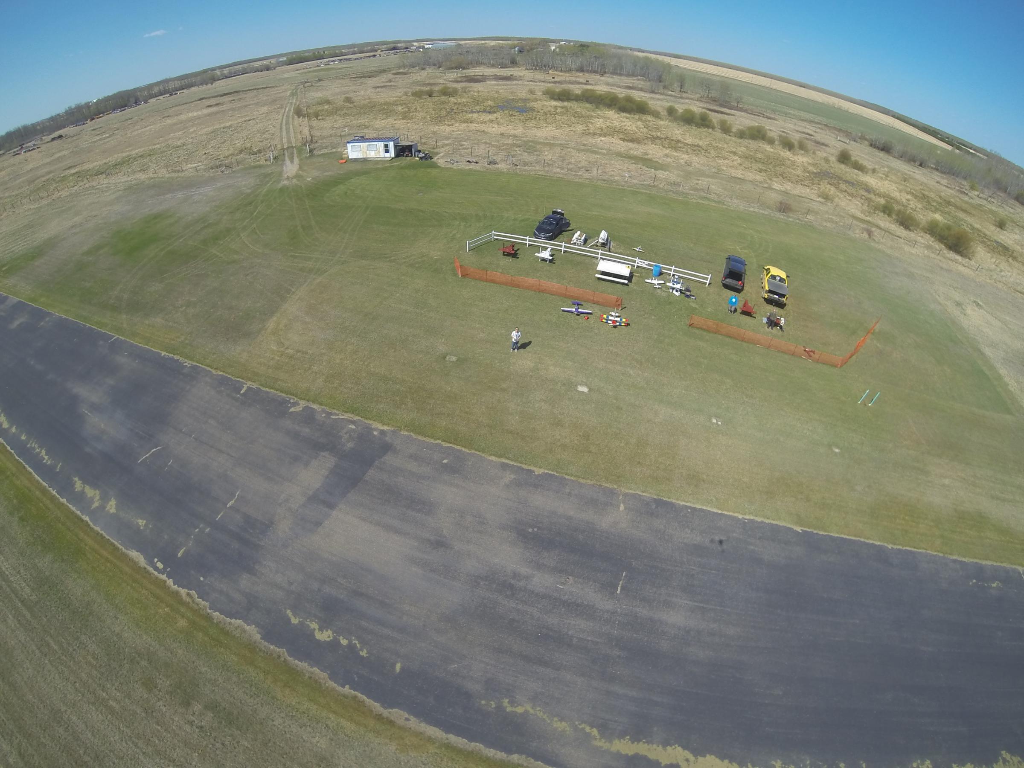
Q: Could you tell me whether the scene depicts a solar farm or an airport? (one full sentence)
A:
The picture captures an airport.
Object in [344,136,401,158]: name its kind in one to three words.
shed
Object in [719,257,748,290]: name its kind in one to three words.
vehicle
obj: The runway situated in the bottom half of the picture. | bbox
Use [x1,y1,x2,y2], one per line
[0,294,1024,768]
